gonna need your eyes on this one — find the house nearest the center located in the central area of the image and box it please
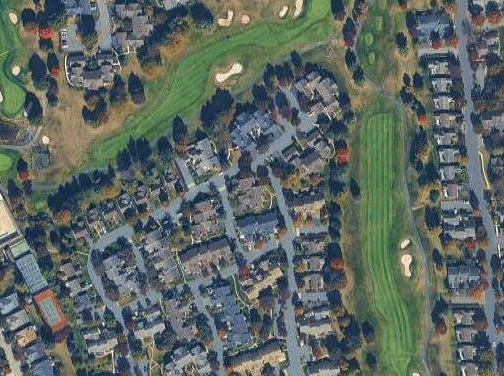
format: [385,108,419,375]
[233,177,272,215]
